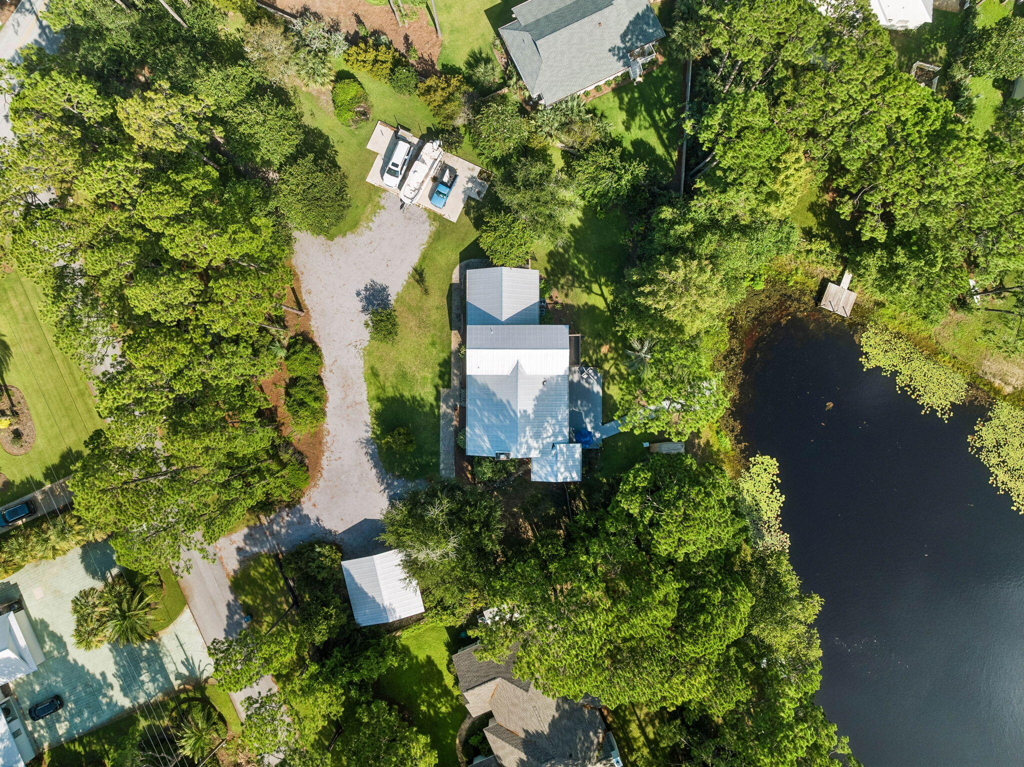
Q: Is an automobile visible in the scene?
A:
Yes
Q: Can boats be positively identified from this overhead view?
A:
Yes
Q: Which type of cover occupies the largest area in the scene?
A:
trees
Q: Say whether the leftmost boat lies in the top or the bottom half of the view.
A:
top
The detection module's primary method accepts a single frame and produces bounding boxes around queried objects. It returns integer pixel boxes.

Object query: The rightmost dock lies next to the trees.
[818,269,857,317]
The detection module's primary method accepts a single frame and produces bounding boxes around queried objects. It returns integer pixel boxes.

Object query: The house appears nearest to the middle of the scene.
[465,266,583,483]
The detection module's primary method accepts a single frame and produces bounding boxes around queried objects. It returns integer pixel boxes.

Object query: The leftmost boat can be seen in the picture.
[401,137,443,204]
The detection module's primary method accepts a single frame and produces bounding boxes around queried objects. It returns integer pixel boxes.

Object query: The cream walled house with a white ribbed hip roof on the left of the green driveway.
[0,609,45,686]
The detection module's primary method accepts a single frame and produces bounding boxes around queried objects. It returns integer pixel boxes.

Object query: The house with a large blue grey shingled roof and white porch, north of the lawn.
[498,0,666,107]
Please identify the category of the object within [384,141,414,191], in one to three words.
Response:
car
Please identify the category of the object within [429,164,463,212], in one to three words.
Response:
truck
